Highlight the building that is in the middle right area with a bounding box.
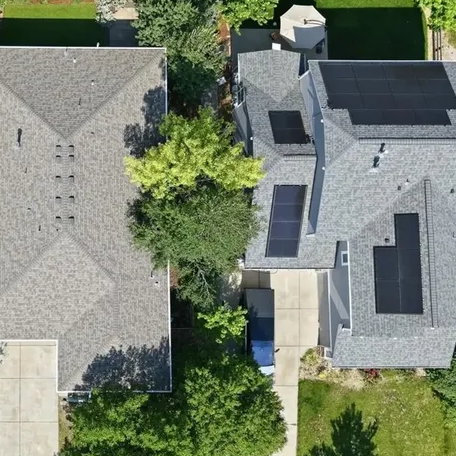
[234,39,456,370]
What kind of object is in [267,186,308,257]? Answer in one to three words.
solar array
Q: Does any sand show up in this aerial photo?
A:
No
